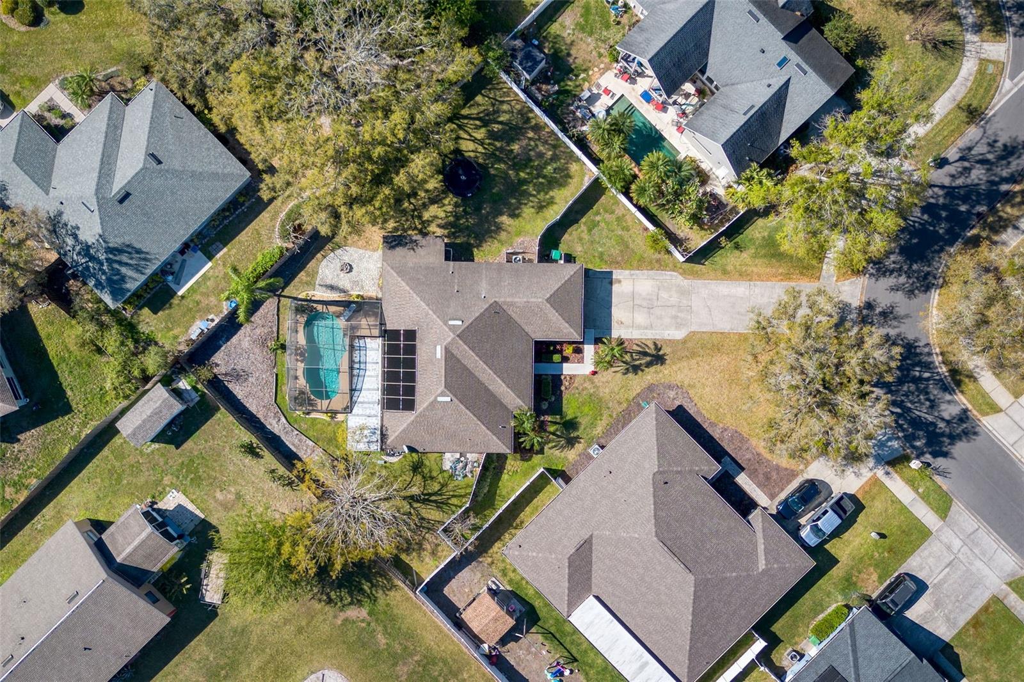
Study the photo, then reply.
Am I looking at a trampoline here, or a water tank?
trampoline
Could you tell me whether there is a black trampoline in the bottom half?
No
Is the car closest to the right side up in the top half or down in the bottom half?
bottom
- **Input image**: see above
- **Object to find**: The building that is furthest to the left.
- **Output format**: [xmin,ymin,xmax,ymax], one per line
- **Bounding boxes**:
[0,357,38,418]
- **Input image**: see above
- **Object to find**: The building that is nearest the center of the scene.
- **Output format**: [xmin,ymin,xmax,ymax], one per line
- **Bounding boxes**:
[382,235,584,454]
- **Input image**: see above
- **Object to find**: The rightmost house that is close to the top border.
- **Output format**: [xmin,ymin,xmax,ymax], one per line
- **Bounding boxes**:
[615,0,855,178]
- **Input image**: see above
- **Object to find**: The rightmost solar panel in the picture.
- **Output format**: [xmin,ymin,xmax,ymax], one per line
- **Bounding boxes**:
[810,657,852,682]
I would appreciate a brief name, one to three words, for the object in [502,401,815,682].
house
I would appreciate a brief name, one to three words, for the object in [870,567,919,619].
car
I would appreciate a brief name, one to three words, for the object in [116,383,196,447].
shed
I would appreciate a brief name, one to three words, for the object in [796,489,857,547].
truck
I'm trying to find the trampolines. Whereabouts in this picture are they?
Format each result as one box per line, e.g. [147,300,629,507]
[443,154,483,196]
